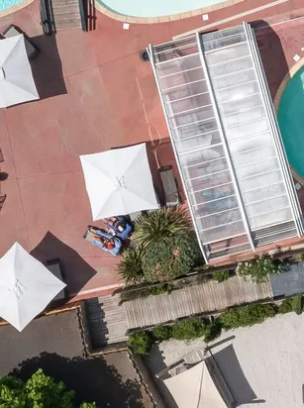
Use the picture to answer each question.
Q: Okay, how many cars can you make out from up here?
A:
0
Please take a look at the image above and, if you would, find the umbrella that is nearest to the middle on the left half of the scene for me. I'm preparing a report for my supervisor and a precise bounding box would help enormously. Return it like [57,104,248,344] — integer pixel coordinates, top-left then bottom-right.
[80,142,160,222]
